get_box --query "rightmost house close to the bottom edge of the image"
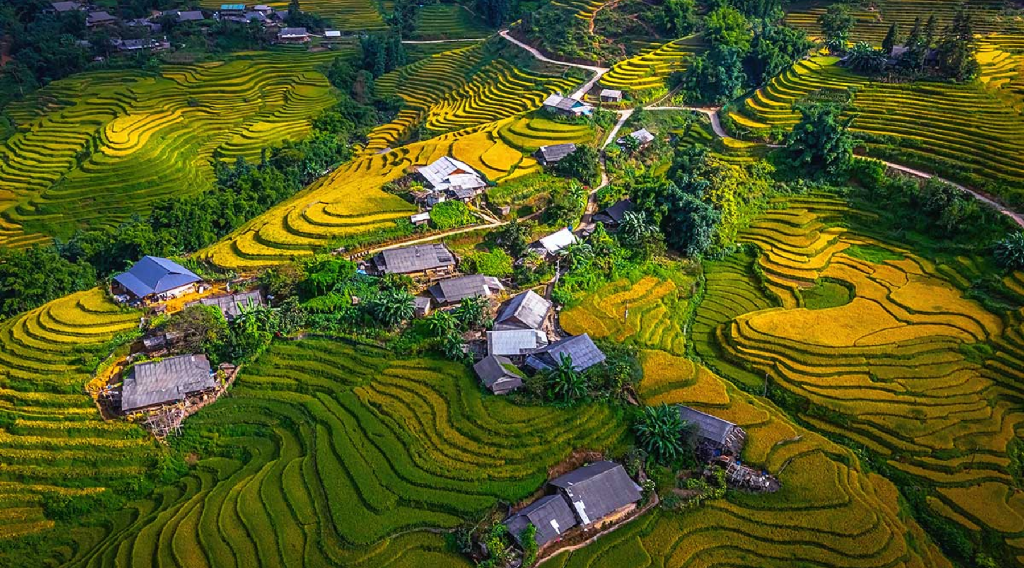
[553,458,643,540]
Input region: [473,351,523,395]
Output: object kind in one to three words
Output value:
shed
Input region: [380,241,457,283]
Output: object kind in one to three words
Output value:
house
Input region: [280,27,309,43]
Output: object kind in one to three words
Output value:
house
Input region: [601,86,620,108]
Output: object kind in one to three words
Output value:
shed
